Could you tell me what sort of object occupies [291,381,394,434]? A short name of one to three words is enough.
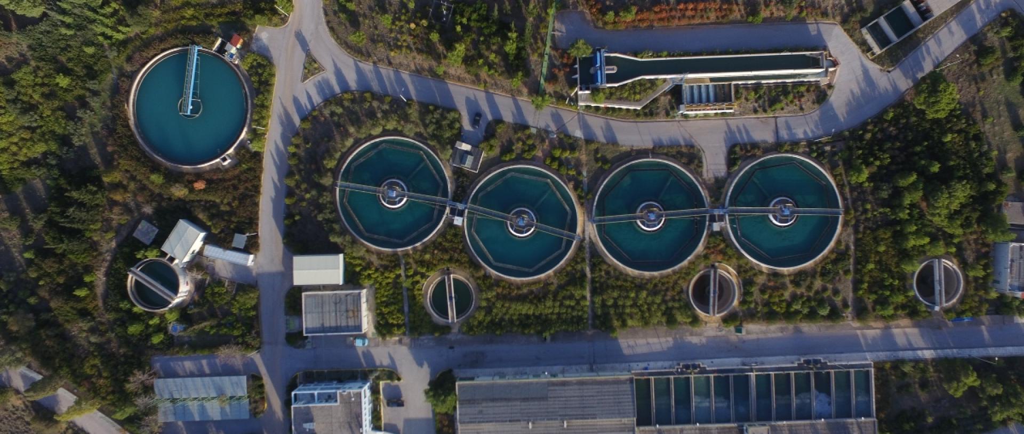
building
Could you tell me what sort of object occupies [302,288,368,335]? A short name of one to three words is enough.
building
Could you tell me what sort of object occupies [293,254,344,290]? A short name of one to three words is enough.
shed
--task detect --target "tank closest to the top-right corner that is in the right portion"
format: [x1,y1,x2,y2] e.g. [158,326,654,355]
[858,0,963,60]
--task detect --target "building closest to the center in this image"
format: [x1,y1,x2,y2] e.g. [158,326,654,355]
[452,141,484,173]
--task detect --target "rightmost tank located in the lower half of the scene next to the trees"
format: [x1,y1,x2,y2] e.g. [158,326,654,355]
[906,253,964,311]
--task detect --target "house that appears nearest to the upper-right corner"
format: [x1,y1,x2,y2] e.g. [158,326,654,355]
[993,201,1024,229]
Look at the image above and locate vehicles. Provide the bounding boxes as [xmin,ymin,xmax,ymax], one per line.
[387,399,404,408]
[354,338,369,346]
[473,113,482,129]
